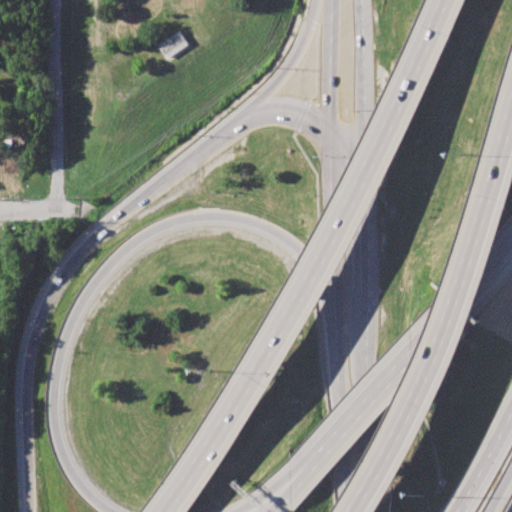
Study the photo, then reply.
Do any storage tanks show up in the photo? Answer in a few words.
No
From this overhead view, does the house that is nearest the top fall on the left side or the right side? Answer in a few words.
left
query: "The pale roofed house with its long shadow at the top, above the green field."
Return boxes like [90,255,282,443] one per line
[158,32,190,66]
